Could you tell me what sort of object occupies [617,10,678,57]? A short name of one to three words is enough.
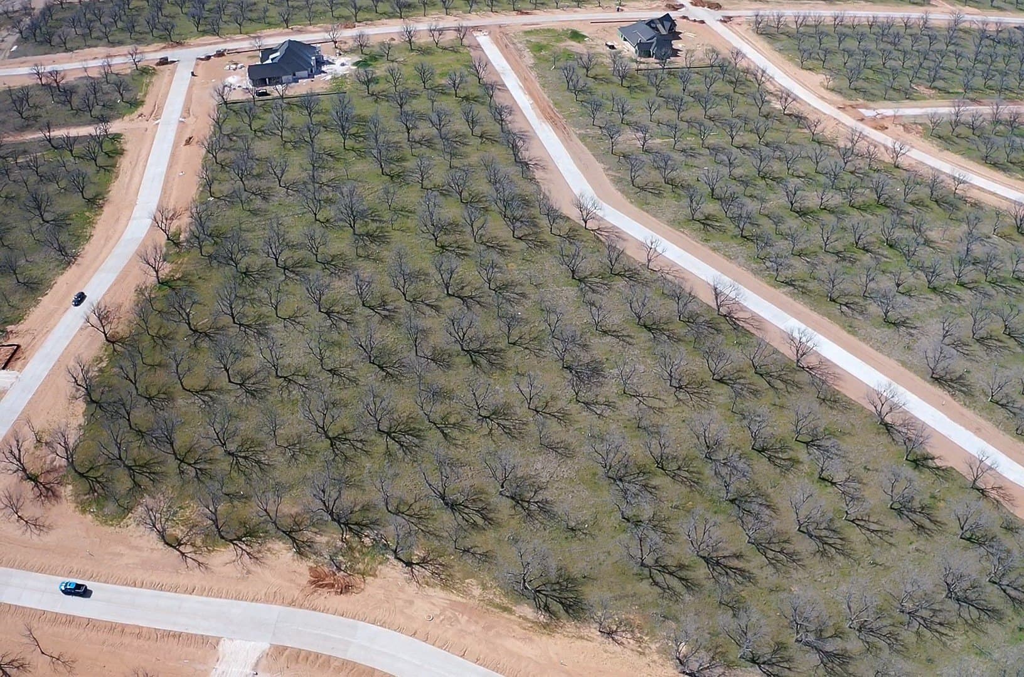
house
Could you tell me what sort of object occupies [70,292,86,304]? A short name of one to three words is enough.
vehicle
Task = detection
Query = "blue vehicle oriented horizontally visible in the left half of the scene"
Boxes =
[56,581,88,596]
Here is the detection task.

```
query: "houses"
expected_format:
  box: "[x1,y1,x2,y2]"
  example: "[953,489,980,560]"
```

[251,37,326,86]
[617,10,678,57]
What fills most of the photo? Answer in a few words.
grass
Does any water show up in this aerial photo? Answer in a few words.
No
